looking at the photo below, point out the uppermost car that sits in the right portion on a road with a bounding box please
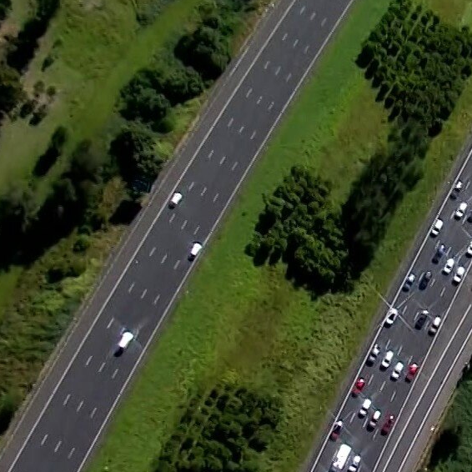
[450,182,463,198]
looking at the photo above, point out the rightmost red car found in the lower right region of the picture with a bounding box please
[405,364,418,380]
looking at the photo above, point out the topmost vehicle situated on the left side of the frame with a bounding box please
[169,192,182,208]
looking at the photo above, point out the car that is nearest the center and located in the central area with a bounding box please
[189,244,201,257]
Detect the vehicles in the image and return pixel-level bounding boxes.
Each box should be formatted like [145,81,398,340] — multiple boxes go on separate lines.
[169,192,182,208]
[415,312,428,330]
[385,309,398,327]
[418,272,432,290]
[405,364,418,380]
[432,246,445,262]
[189,244,201,257]
[391,362,404,380]
[116,334,133,352]
[329,419,344,441]
[358,399,371,417]
[402,274,415,292]
[330,441,350,472]
[428,318,442,334]
[454,202,468,218]
[466,240,472,256]
[348,455,361,472]
[380,351,394,369]
[431,219,443,236]
[367,347,380,365]
[368,410,381,429]
[450,182,463,198]
[351,378,365,396]
[442,258,455,275]
[380,416,395,435]
[453,266,465,284]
